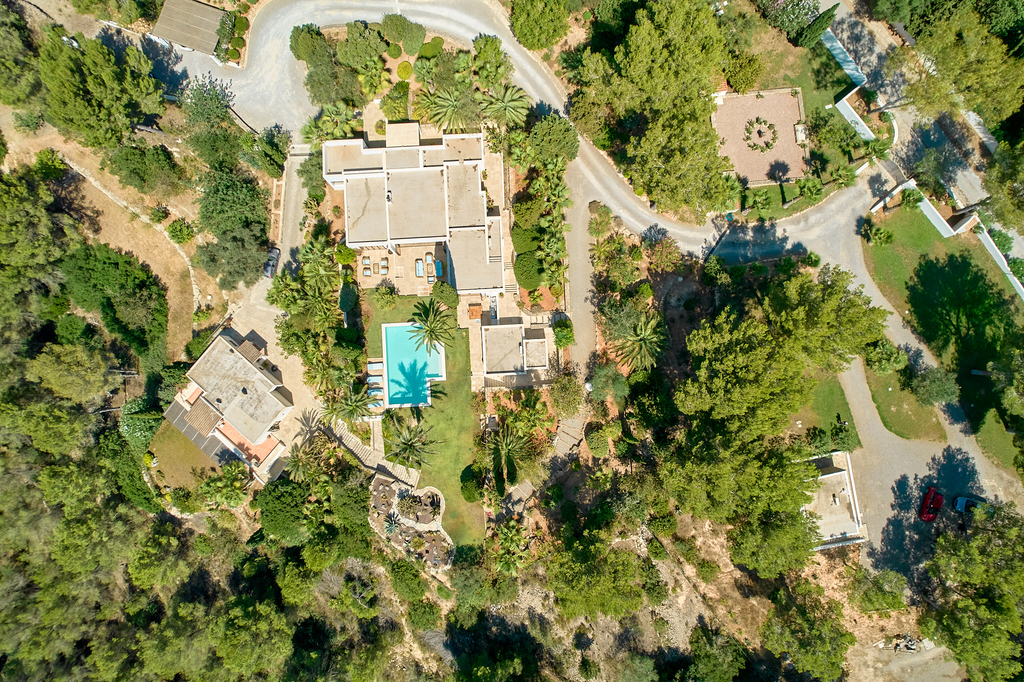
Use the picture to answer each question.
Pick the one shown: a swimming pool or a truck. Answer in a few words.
swimming pool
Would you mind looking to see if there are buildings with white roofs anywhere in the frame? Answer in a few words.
Yes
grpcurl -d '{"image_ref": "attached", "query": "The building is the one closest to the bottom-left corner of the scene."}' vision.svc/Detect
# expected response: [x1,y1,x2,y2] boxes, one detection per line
[174,335,295,480]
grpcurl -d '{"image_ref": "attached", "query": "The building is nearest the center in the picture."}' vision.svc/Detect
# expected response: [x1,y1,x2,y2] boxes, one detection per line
[482,325,548,376]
